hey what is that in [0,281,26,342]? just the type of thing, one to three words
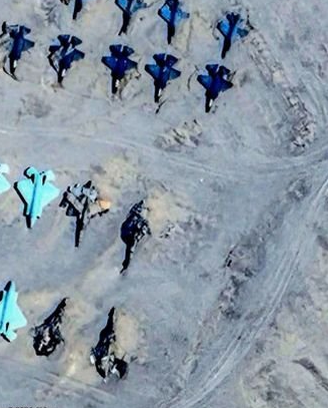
airplane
